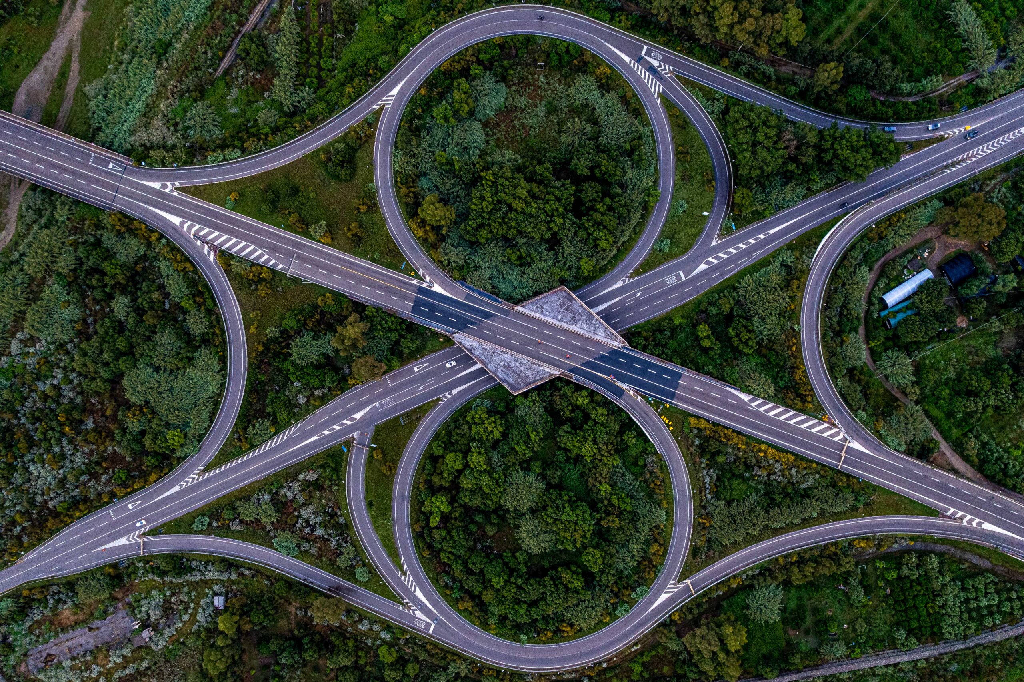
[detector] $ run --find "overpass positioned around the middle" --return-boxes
[346,280,741,463]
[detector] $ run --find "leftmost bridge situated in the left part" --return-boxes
[0,109,135,213]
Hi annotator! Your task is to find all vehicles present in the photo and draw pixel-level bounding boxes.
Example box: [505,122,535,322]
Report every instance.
[840,202,850,209]
[433,616,441,625]
[967,130,980,138]
[445,360,457,368]
[135,520,145,527]
[929,122,941,129]
[885,126,898,132]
